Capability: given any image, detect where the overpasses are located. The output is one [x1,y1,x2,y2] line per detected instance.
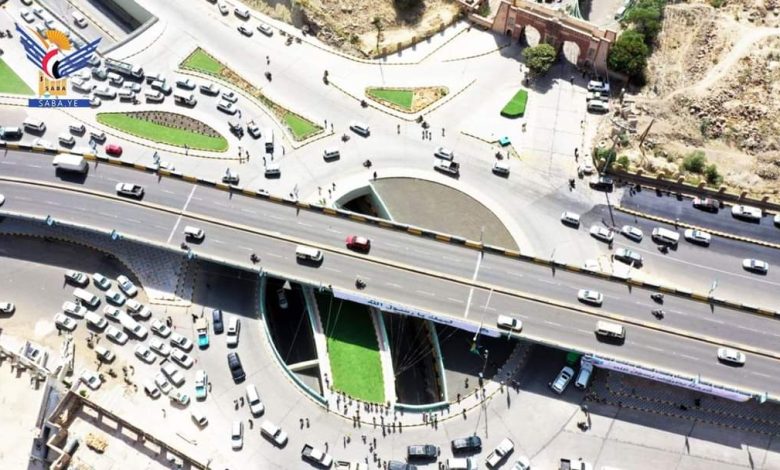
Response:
[0,146,780,408]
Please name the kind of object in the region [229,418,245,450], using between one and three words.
car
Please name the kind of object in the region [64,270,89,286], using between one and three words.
car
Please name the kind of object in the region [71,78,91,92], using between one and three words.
vehicle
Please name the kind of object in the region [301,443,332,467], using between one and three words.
truck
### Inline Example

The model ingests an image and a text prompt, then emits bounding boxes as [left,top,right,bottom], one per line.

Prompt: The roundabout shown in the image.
[261,167,549,428]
